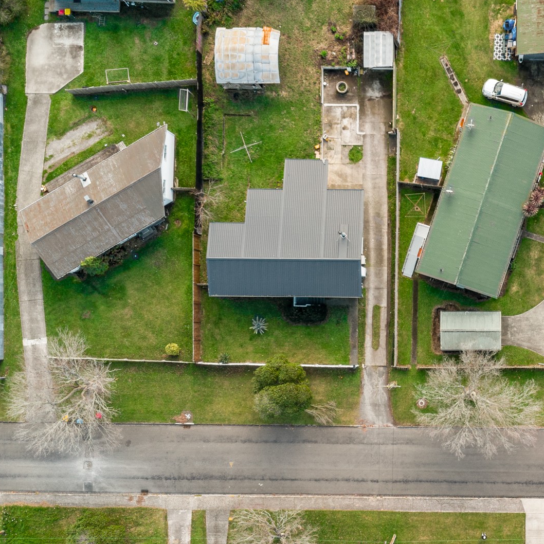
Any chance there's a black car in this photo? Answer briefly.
No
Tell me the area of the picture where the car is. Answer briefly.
top right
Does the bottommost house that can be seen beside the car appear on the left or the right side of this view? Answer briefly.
right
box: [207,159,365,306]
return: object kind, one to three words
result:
house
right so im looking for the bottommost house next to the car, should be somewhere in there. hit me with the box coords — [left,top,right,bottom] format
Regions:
[402,102,544,299]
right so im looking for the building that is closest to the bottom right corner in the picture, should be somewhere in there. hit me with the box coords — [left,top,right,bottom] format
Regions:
[440,310,502,351]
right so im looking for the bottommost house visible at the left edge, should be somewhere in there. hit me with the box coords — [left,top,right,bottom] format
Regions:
[20,119,181,279]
